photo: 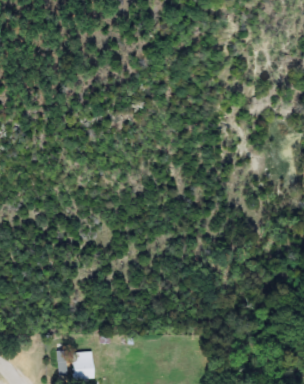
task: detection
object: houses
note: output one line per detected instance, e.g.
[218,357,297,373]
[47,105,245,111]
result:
[56,352,70,375]
[72,352,94,379]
